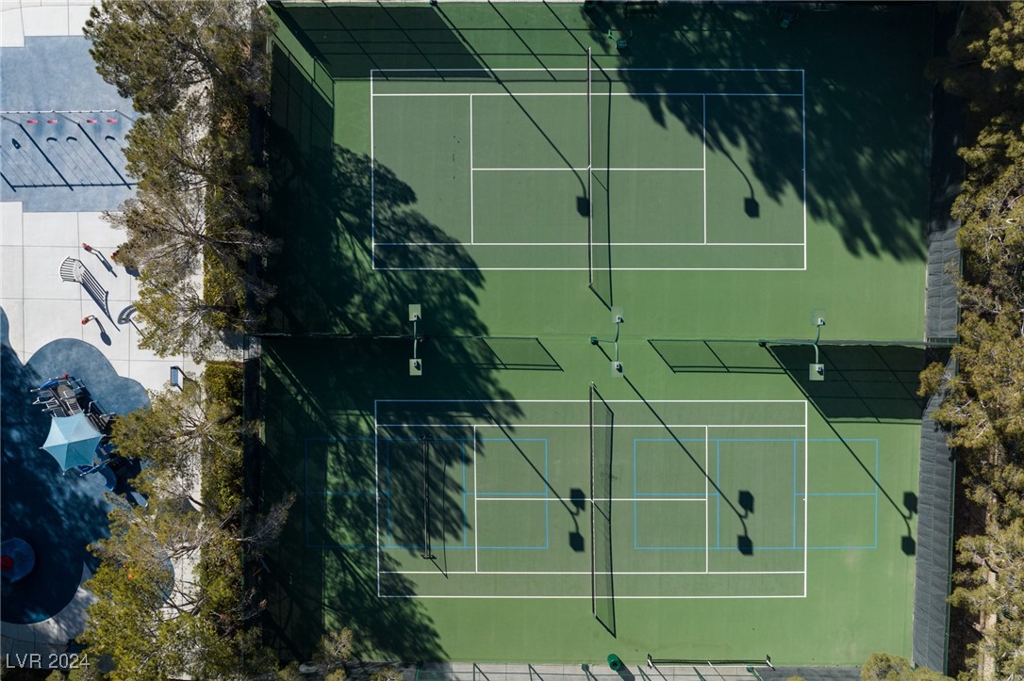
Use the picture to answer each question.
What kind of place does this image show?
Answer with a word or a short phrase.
sports ground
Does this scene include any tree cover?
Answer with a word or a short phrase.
Yes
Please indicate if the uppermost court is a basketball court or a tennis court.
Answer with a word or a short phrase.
tennis court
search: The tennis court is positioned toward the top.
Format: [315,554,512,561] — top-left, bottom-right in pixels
[261,1,931,341]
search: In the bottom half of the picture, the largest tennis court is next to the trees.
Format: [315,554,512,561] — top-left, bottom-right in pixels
[260,341,924,666]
